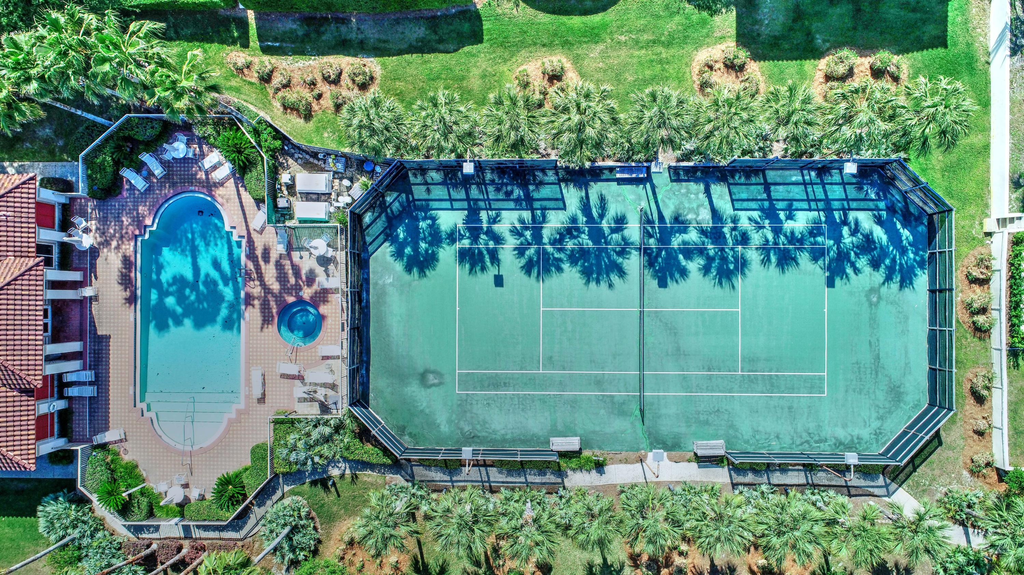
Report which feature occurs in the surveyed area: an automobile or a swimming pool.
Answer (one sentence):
The one in the frame is a swimming pool.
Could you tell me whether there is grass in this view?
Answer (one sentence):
Yes, grass shows up in the scene.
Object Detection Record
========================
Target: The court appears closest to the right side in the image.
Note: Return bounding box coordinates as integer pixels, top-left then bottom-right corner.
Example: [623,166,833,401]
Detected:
[360,170,927,452]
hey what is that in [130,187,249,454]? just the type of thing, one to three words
swimming pool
